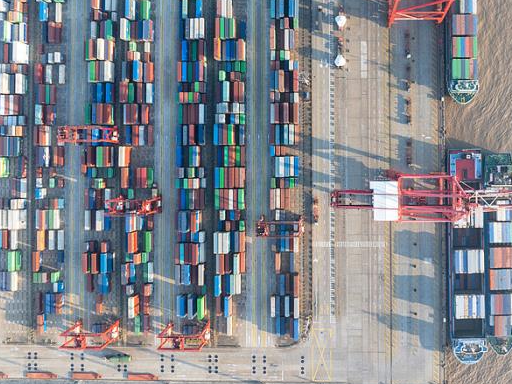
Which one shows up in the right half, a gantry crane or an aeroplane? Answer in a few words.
gantry crane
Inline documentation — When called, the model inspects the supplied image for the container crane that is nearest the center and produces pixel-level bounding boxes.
[254,211,305,237]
